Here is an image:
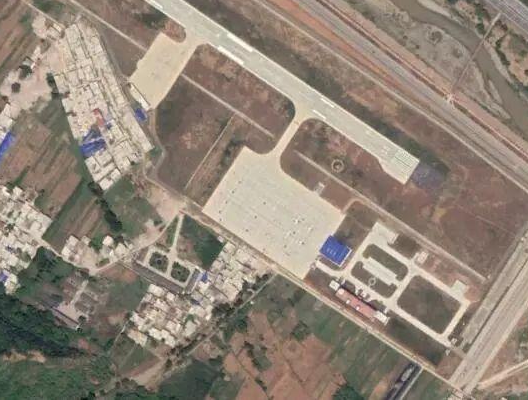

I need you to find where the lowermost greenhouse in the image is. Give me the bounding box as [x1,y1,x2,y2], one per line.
[383,365,415,400]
